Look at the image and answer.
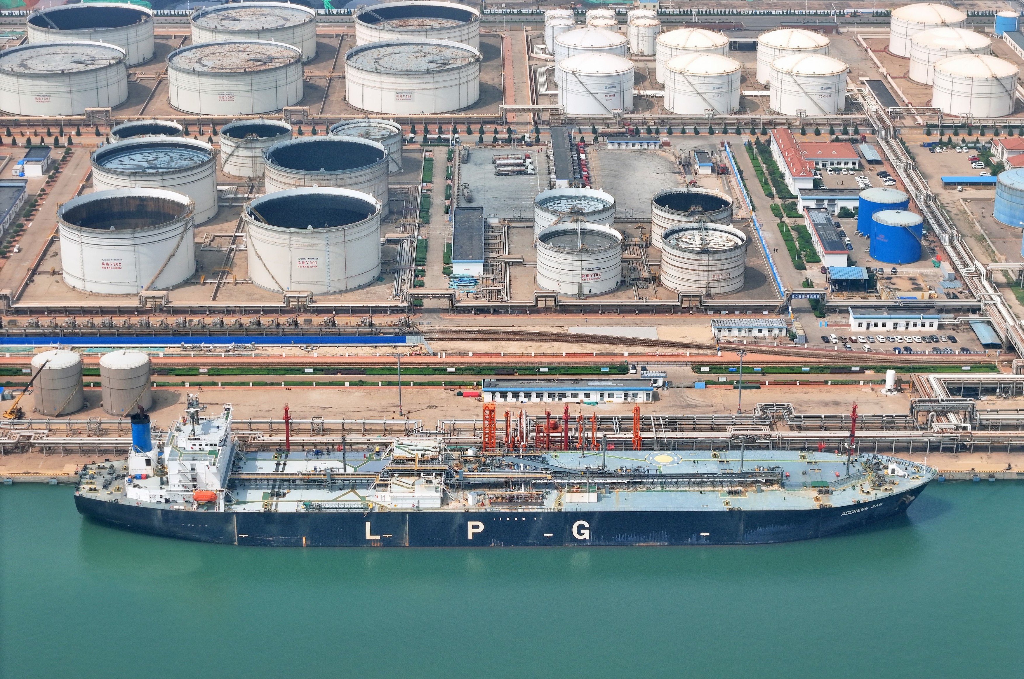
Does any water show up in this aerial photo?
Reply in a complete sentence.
Yes, water can be seen from above here.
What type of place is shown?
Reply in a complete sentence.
This image shows an industrial area.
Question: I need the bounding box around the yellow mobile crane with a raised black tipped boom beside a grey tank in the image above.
[0,353,48,416]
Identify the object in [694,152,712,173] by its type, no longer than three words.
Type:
house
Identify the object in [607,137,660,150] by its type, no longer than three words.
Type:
building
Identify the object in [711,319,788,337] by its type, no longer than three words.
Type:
building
